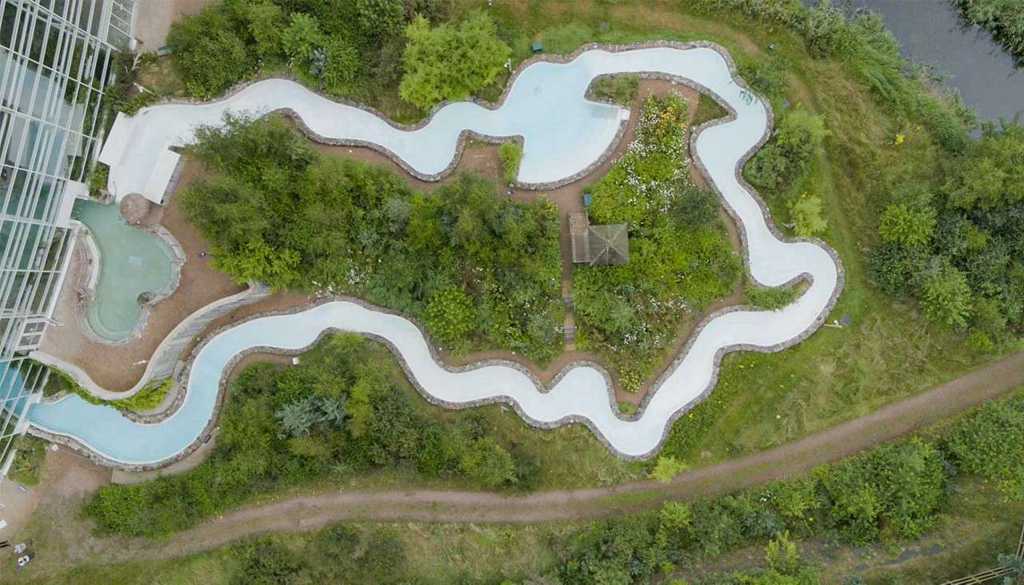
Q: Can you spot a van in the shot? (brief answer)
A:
No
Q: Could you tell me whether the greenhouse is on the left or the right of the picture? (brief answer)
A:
left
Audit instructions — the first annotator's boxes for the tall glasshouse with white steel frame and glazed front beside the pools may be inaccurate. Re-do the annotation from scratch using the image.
[0,0,157,508]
